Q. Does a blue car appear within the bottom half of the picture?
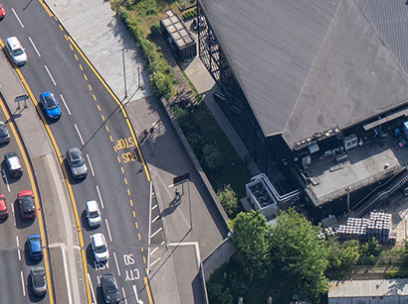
Yes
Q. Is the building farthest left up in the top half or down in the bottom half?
top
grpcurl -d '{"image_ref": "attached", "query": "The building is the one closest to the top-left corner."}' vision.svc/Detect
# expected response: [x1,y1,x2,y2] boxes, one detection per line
[160,14,197,62]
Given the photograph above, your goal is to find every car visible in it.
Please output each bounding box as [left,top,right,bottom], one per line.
[85,201,103,229]
[66,148,87,178]
[92,236,109,263]
[0,195,8,221]
[40,92,61,120]
[5,36,28,65]
[18,191,36,220]
[0,122,8,145]
[25,237,42,262]
[0,4,5,19]
[29,268,47,297]
[4,154,22,178]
